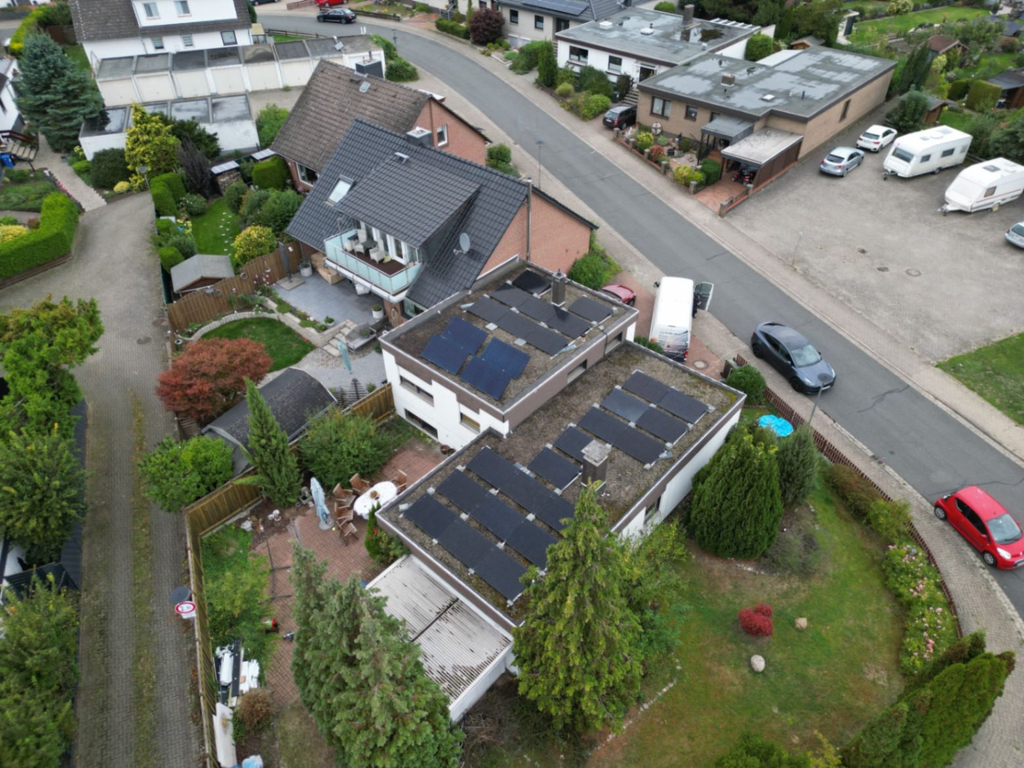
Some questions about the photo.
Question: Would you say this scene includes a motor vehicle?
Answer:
Yes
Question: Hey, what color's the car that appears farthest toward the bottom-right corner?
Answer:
red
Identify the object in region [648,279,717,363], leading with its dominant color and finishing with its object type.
white van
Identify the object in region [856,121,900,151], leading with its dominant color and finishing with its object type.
white car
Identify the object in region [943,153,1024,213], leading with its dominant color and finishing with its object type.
white camper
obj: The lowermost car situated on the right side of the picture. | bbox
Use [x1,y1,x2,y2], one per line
[935,488,1024,574]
